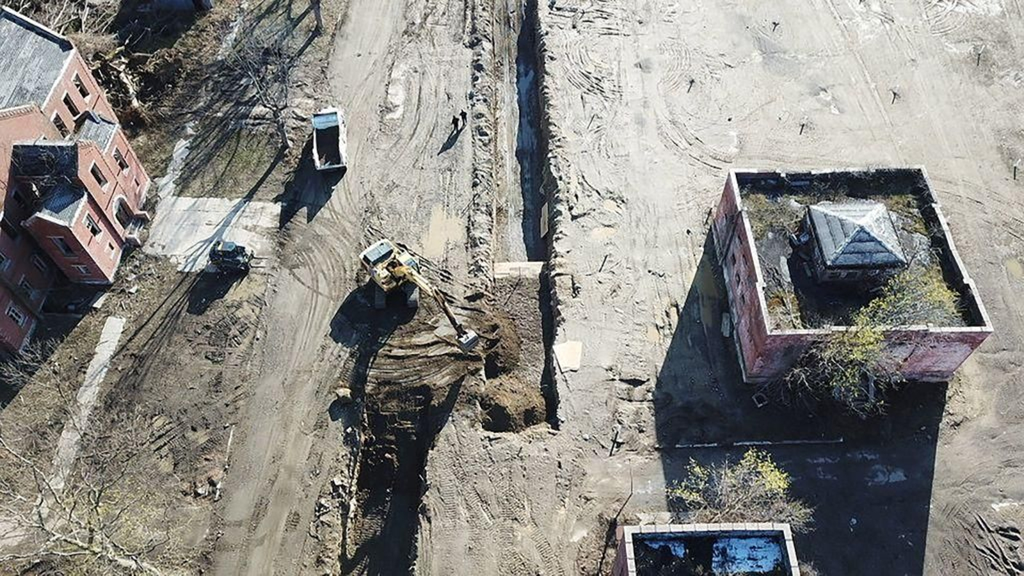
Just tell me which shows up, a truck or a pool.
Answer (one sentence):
The one in the frame is a truck.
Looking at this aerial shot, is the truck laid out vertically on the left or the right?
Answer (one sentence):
The truck laid out vertically sits on the left side.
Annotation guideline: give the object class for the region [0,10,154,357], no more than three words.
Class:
building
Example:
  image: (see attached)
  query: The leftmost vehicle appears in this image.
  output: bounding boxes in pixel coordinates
[204,239,271,276]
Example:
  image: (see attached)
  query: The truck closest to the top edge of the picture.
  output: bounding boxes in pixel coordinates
[308,105,347,179]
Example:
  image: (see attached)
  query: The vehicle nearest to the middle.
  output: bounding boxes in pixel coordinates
[357,237,481,353]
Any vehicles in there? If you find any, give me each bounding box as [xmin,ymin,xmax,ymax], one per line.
[204,239,271,276]
[308,105,347,179]
[357,237,481,353]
